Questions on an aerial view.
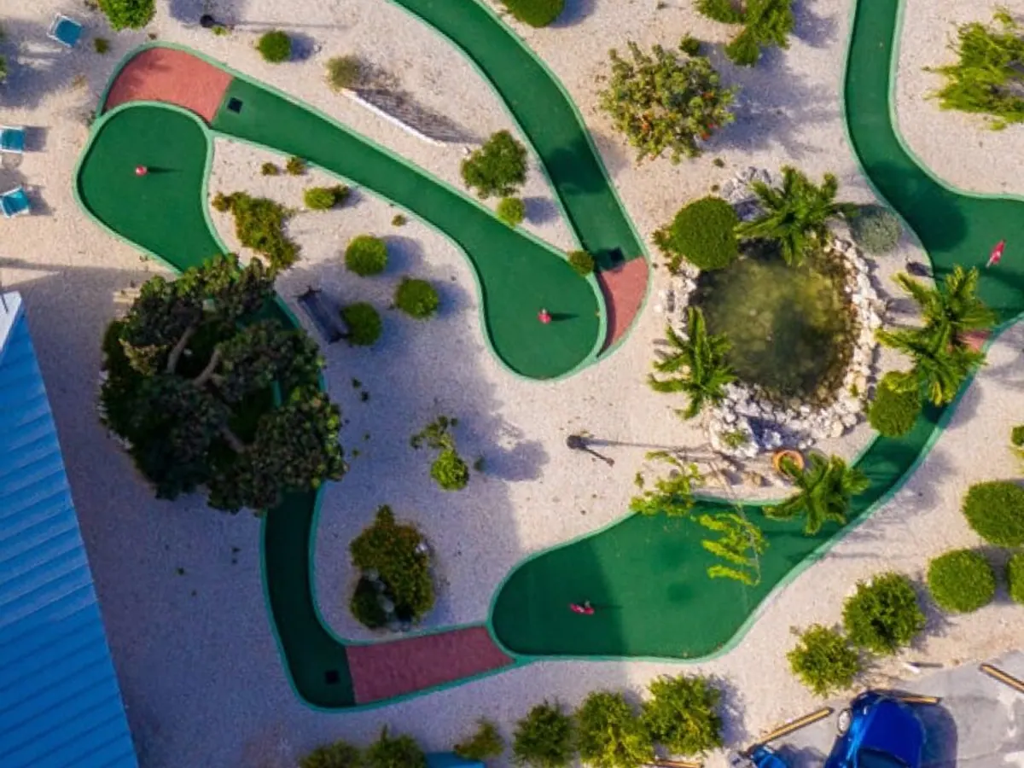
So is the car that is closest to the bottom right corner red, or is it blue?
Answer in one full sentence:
The color of the car that is closest to the bottom right corner is blue.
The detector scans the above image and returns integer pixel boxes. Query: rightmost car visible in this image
[827,687,917,768]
